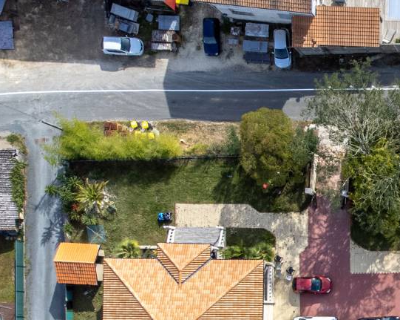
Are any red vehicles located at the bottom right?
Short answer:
Yes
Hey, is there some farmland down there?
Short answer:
No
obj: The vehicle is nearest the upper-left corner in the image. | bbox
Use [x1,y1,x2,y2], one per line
[102,34,146,57]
